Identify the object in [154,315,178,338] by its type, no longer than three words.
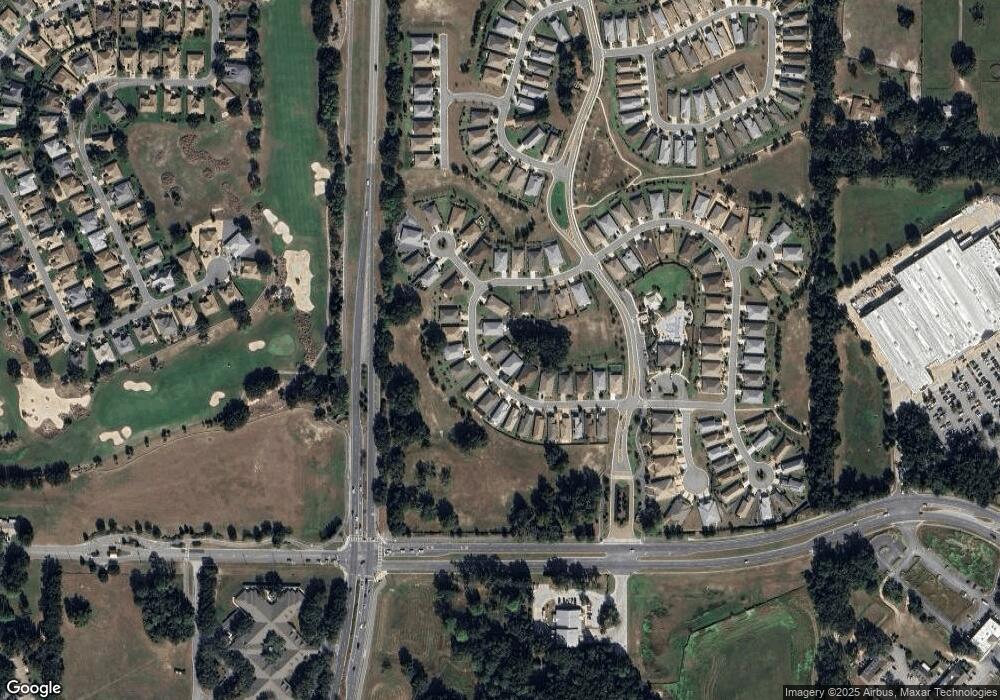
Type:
house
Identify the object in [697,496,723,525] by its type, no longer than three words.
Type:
house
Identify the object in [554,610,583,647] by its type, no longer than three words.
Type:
building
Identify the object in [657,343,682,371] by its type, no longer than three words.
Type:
building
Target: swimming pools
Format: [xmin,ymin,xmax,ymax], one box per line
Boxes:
[656,300,691,345]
